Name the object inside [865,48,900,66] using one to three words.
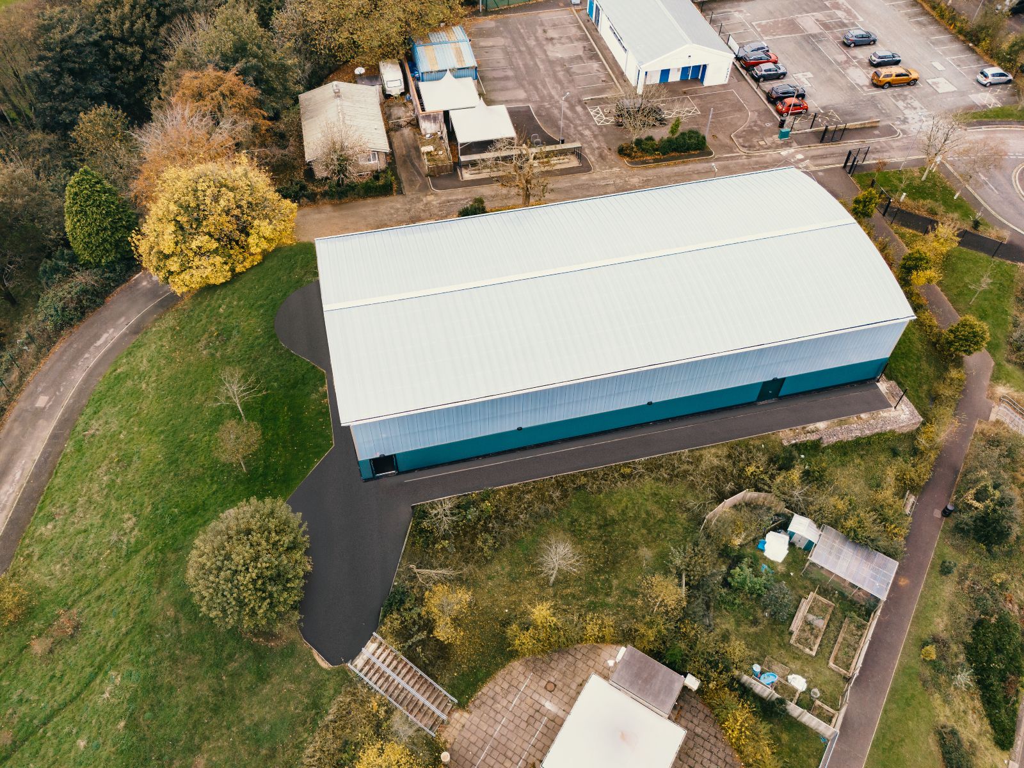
car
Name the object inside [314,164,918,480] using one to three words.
building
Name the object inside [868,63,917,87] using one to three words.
car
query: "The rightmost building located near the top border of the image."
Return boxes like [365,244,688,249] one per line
[585,0,735,94]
